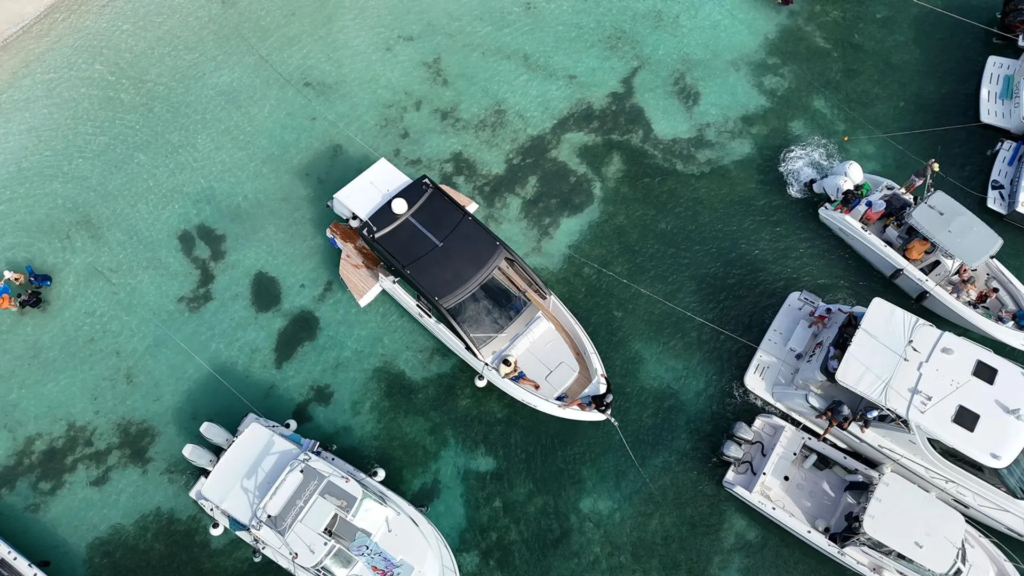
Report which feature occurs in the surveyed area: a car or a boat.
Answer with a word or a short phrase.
boat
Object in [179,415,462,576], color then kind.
white boat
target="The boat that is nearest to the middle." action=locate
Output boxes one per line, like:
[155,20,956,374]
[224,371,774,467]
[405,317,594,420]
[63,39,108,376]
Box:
[328,157,621,432]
